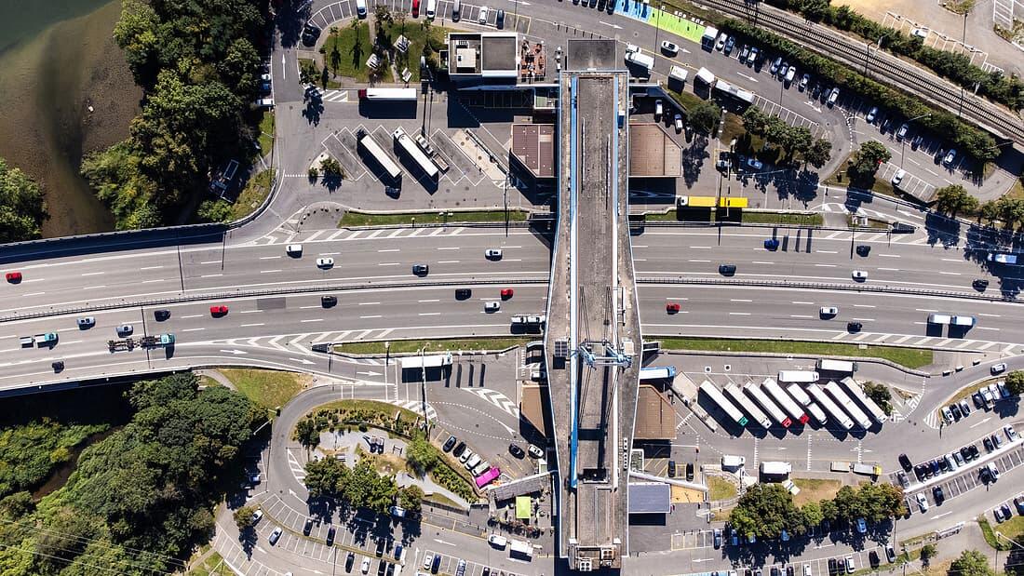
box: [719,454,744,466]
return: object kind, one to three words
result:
vehicle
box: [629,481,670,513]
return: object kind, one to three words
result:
building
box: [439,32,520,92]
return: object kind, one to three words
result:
building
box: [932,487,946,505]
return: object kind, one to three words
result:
car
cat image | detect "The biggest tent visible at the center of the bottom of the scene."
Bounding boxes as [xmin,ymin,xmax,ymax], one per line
[516,495,531,518]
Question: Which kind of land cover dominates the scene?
paved ground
